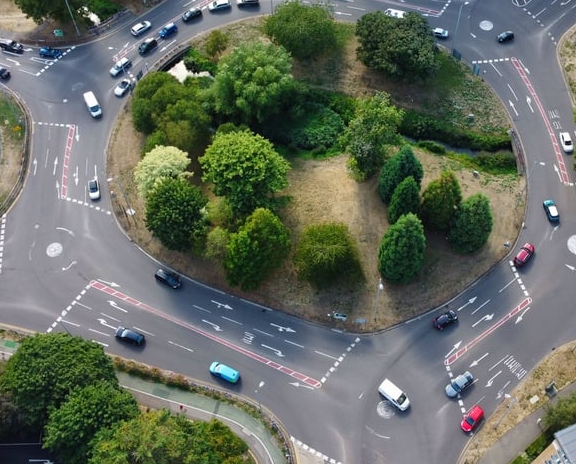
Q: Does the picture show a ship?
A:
No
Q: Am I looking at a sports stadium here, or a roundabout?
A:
roundabout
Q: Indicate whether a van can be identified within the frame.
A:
Yes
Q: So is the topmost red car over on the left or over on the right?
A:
right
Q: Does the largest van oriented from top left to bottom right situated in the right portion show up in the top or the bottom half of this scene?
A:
bottom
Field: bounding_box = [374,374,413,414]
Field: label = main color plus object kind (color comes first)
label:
white van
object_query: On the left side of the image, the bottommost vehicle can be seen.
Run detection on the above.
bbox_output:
[208,362,241,384]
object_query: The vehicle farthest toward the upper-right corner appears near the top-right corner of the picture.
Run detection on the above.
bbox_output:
[494,29,516,44]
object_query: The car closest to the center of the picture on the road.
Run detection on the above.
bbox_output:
[152,268,185,290]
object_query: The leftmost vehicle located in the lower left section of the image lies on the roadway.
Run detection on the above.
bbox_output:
[114,327,148,348]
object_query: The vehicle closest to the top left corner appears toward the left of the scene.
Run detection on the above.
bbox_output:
[0,39,25,54]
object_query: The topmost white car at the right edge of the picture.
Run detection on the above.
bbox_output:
[558,132,574,153]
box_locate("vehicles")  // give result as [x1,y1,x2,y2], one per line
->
[428,26,450,39]
[130,21,152,35]
[457,401,488,434]
[182,6,203,21]
[136,35,161,54]
[558,132,574,153]
[236,0,260,7]
[108,57,134,76]
[0,64,14,78]
[158,22,180,38]
[374,374,413,414]
[82,88,103,118]
[0,39,25,54]
[443,370,475,397]
[543,199,560,223]
[494,29,516,44]
[114,327,148,348]
[87,177,102,201]
[38,46,62,58]
[152,268,185,290]
[514,243,536,268]
[111,76,135,97]
[208,362,241,384]
[431,309,460,330]
[207,0,232,12]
